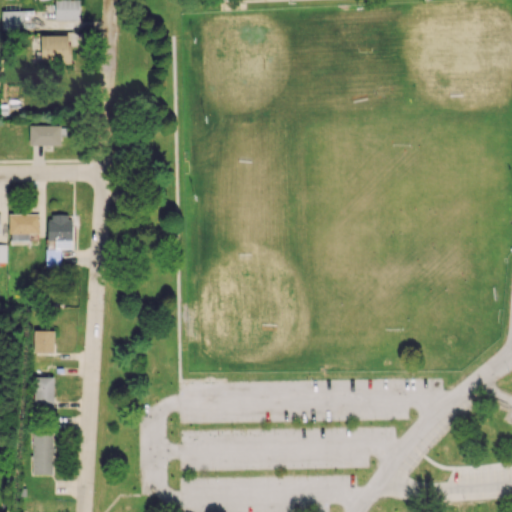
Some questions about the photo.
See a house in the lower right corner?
No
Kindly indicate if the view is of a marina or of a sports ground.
sports ground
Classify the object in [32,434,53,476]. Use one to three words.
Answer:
house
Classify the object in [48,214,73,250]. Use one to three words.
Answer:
house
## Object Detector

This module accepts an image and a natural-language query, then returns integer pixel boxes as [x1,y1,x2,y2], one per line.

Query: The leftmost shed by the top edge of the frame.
[1,10,34,30]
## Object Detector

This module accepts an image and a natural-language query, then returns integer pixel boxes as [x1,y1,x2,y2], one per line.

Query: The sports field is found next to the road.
[183,0,512,372]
